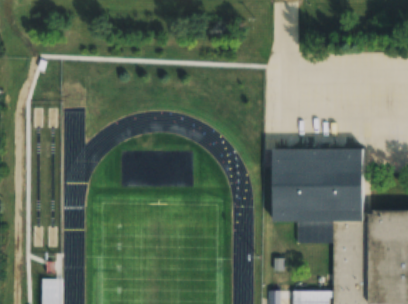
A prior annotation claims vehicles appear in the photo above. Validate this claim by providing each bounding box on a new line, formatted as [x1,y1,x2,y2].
[324,122,329,137]
[314,118,320,134]
[298,120,304,136]
[331,122,338,136]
